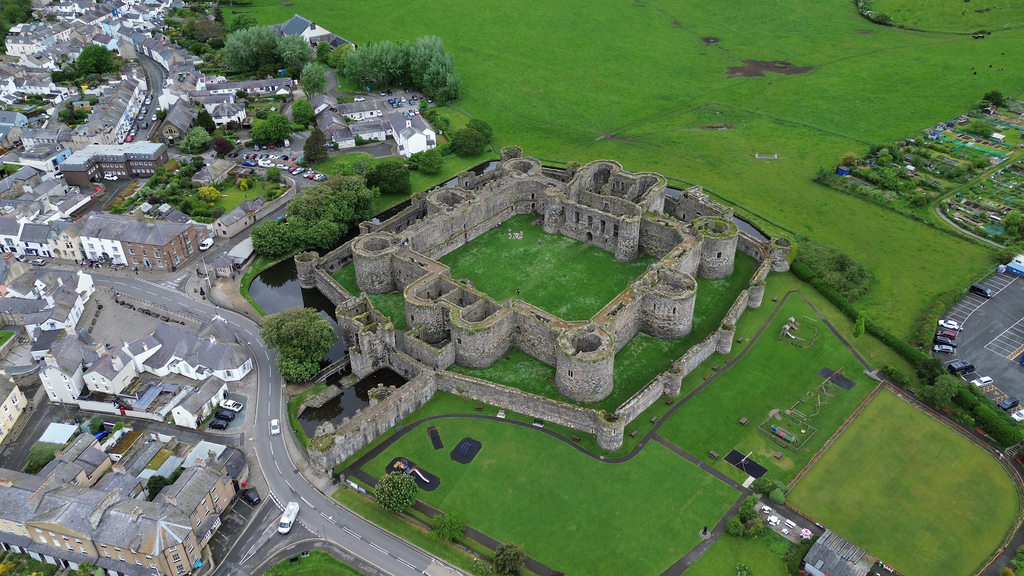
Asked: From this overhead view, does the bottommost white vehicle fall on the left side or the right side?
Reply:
left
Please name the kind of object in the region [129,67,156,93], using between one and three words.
house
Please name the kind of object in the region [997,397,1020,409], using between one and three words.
vehicle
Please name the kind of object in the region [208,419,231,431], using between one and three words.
vehicle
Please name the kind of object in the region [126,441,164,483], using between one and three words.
shed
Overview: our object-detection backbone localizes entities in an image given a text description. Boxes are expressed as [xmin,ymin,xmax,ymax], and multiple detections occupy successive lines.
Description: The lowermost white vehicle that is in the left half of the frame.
[277,497,301,533]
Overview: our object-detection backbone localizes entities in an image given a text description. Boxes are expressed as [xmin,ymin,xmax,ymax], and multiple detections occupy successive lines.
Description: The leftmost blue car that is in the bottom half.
[94,425,115,441]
